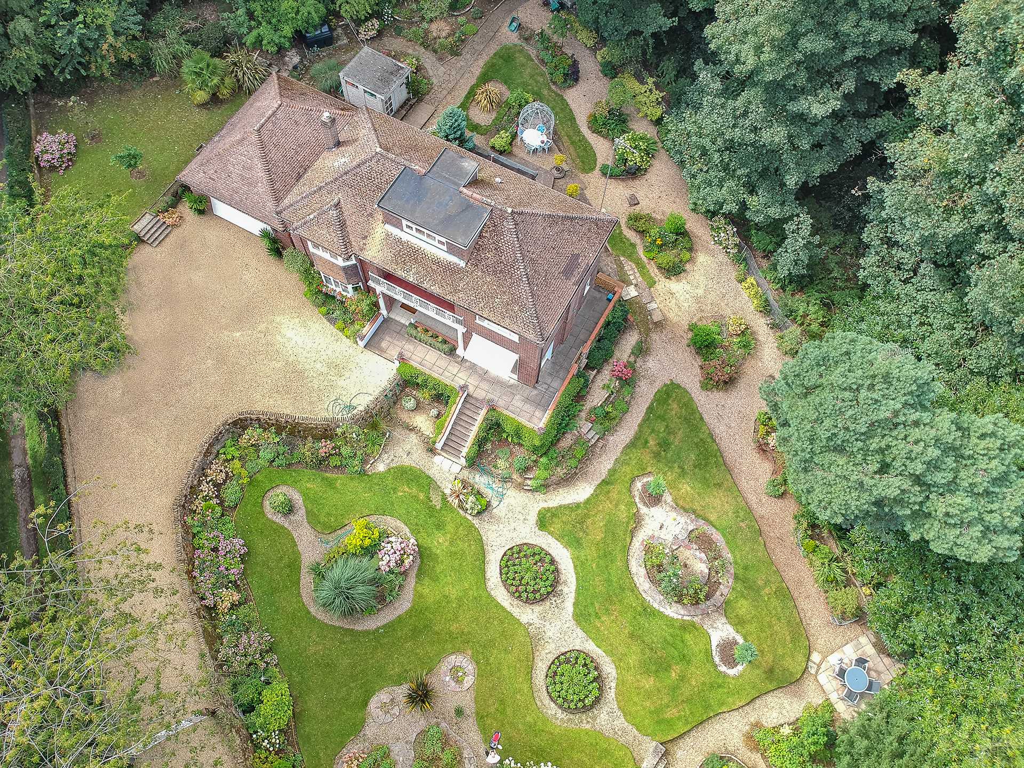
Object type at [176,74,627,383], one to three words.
house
